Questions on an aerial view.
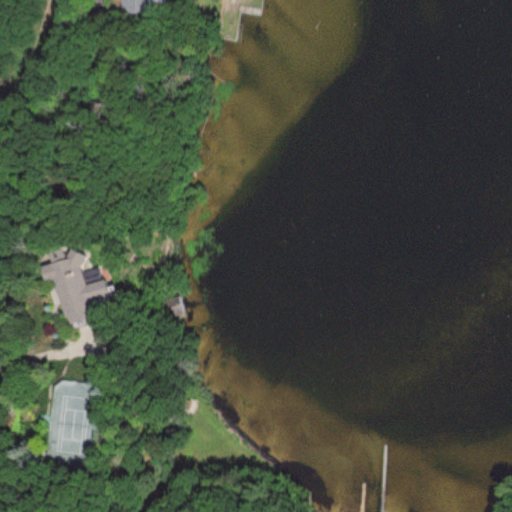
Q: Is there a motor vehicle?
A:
No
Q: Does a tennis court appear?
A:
Yes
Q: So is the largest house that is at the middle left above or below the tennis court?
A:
above it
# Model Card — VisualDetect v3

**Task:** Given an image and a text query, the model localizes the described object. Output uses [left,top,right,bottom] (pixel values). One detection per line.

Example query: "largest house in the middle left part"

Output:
[41,249,112,327]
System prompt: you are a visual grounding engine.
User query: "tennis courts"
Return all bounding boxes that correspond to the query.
[47,380,100,460]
